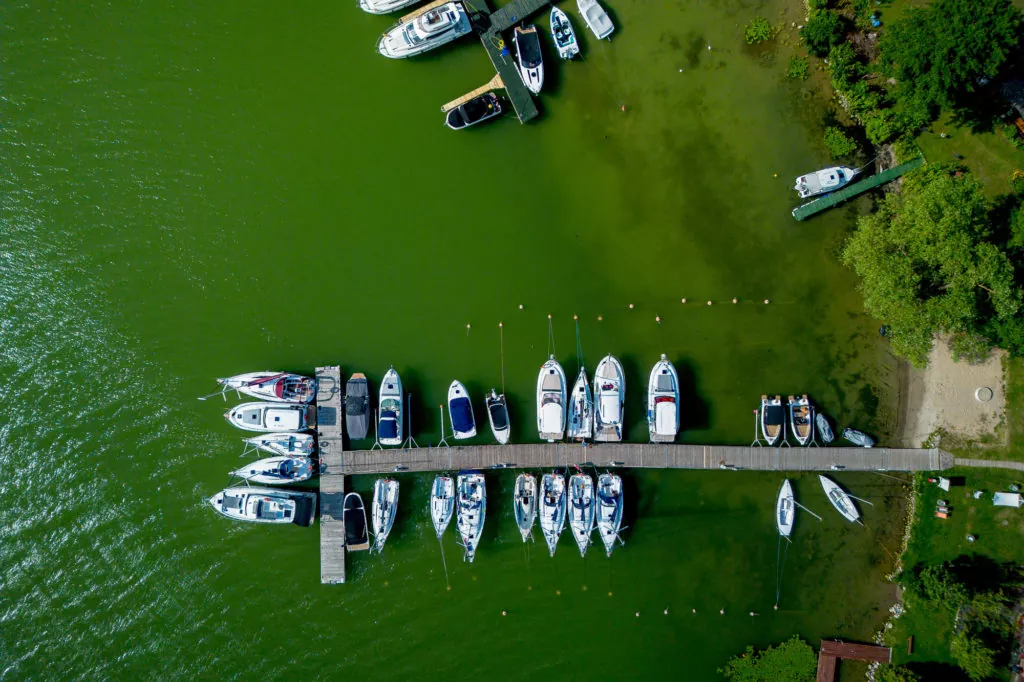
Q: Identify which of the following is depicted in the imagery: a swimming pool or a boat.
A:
boat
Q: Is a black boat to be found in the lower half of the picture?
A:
Yes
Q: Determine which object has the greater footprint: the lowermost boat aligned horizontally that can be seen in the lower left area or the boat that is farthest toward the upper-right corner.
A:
the lowermost boat aligned horizontally that can be seen in the lower left area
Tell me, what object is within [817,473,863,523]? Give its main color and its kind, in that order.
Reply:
white boat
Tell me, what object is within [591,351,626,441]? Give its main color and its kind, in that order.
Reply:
white boat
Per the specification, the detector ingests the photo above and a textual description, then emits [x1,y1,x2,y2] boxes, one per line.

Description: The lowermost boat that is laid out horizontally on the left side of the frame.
[205,484,320,525]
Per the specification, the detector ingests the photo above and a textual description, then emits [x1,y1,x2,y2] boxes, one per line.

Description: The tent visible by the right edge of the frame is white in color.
[986,490,1021,507]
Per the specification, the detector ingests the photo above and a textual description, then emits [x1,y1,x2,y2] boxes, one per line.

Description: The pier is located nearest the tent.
[342,443,954,474]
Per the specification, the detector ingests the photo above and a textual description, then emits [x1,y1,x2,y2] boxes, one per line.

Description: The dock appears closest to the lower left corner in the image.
[315,366,345,584]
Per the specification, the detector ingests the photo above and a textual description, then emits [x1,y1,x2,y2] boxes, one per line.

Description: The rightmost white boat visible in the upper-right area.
[790,165,860,196]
